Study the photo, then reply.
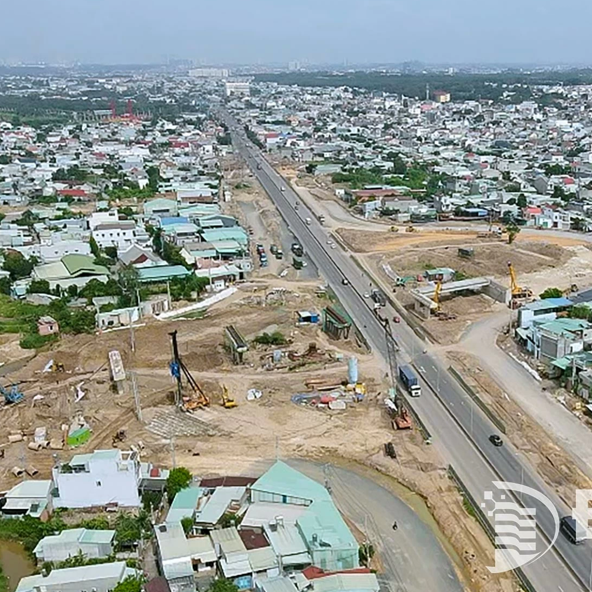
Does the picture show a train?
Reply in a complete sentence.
No, the picture doesn't show any train.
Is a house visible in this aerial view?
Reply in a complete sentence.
Yes, the picture does show a house.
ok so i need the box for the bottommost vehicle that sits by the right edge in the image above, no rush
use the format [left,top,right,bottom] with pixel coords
[556,512,585,543]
